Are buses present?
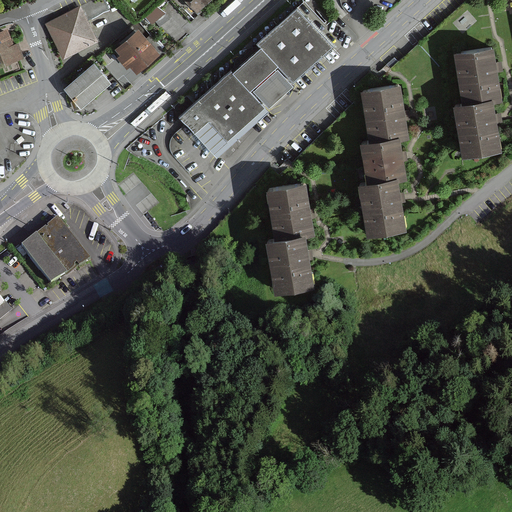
Yes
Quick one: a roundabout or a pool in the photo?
roundabout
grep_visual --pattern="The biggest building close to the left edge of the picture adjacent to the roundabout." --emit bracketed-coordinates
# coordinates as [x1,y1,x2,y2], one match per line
[16,214,91,284]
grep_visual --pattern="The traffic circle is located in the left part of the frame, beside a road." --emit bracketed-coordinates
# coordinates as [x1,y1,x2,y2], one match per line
[36,121,112,196]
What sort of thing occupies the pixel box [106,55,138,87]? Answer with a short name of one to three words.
building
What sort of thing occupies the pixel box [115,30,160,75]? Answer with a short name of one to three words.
house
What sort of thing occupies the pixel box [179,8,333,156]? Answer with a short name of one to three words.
building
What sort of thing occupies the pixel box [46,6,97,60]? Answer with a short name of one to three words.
house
